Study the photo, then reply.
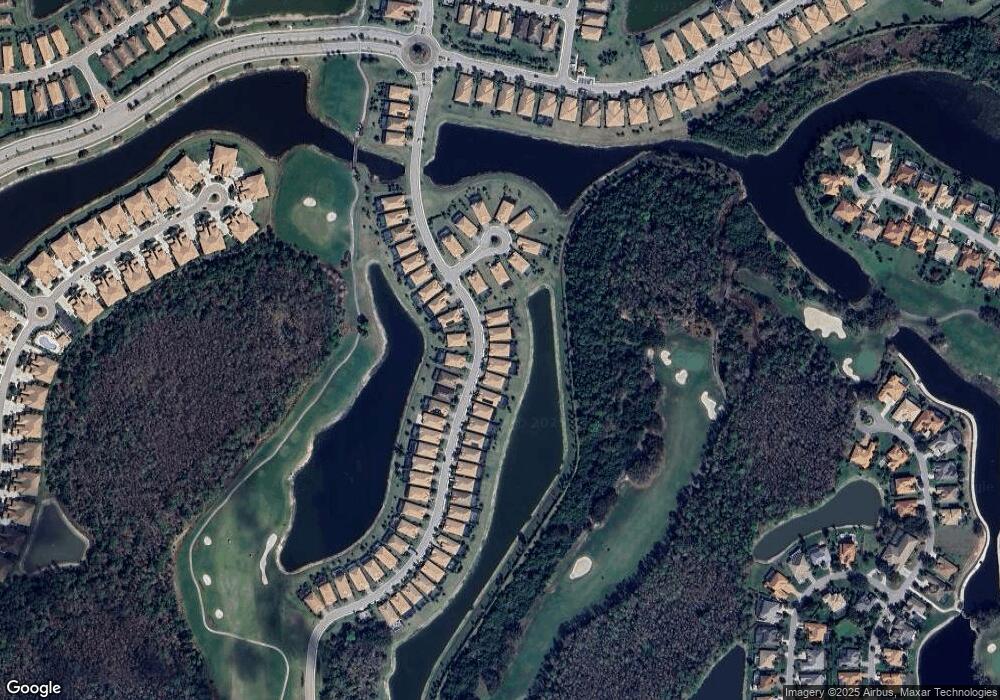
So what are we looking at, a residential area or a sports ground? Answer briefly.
residential area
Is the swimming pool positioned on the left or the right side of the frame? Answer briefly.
left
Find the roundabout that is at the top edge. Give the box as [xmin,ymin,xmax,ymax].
[400,32,439,72]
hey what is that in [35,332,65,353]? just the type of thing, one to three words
swimming pool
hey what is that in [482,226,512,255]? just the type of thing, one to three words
roundabout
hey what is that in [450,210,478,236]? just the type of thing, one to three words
house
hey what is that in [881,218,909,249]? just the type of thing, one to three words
house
